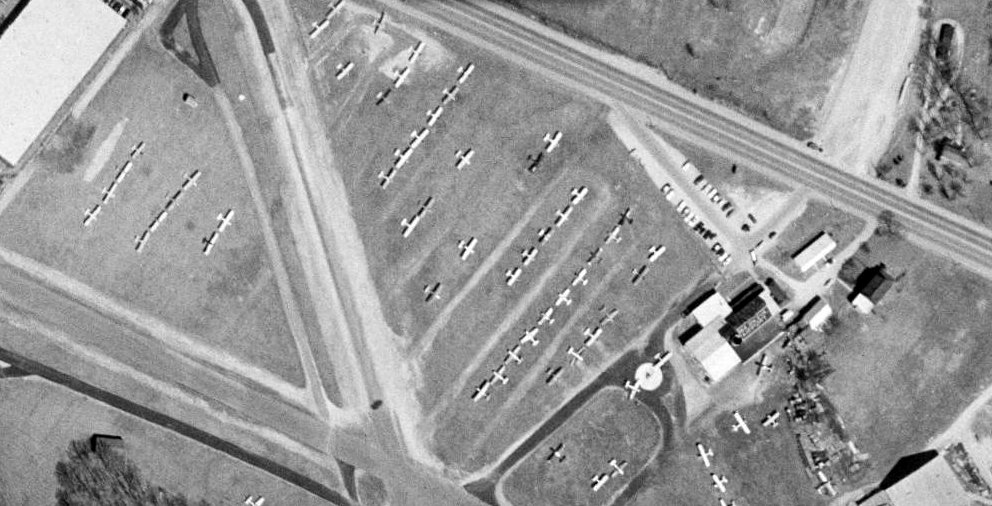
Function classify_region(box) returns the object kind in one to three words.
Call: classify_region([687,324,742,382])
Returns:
hangar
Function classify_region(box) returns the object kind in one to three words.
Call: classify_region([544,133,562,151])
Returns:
airplane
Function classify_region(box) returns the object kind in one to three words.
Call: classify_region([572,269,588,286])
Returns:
airplane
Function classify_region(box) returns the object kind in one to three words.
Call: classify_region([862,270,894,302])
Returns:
house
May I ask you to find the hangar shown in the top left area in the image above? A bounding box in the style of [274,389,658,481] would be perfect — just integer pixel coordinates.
[0,0,126,166]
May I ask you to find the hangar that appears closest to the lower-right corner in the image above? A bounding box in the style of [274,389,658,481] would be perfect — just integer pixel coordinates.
[887,456,972,506]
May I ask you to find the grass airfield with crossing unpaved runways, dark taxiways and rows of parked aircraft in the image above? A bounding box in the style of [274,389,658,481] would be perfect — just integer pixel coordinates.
[0,0,677,506]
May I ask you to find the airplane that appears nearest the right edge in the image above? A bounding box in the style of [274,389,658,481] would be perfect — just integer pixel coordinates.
[815,473,837,496]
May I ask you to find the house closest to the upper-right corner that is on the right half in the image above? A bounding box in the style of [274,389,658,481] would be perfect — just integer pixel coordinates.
[938,25,953,58]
